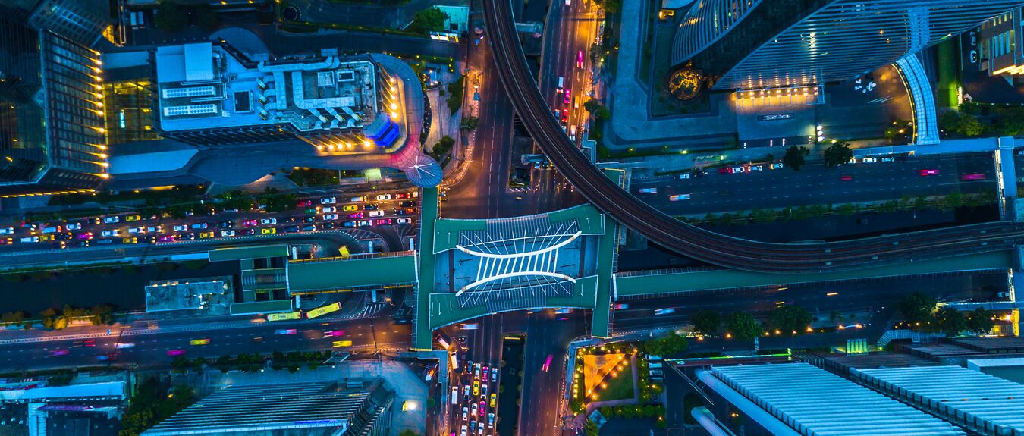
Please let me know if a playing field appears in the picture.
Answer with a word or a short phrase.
No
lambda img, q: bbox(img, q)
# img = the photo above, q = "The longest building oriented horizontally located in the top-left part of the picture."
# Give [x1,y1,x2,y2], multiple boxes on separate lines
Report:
[154,41,394,147]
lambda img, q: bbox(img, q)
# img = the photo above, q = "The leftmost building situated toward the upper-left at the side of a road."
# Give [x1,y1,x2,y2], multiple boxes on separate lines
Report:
[0,0,112,197]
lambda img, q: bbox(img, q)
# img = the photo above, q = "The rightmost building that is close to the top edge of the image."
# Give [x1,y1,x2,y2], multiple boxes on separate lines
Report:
[970,9,1024,76]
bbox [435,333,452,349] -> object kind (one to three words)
vehicle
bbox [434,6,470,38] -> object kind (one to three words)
building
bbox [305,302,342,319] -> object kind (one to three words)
vehicle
